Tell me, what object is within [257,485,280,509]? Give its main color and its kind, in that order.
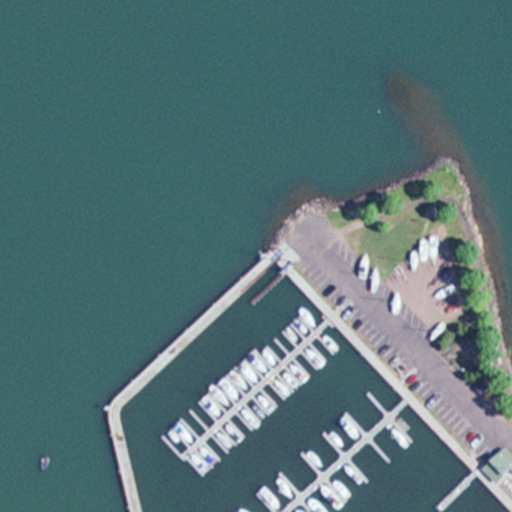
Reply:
white boat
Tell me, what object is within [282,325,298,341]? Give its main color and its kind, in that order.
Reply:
white boat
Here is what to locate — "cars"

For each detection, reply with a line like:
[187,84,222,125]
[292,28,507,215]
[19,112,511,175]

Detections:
[324,284,336,296]
[470,437,483,450]
[390,354,402,366]
[406,372,418,384]
[343,304,355,316]
[428,394,440,406]
[380,343,392,354]
[464,434,476,444]
[412,378,423,389]
[354,316,366,327]
[334,296,345,306]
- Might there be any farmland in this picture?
No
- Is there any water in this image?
Yes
